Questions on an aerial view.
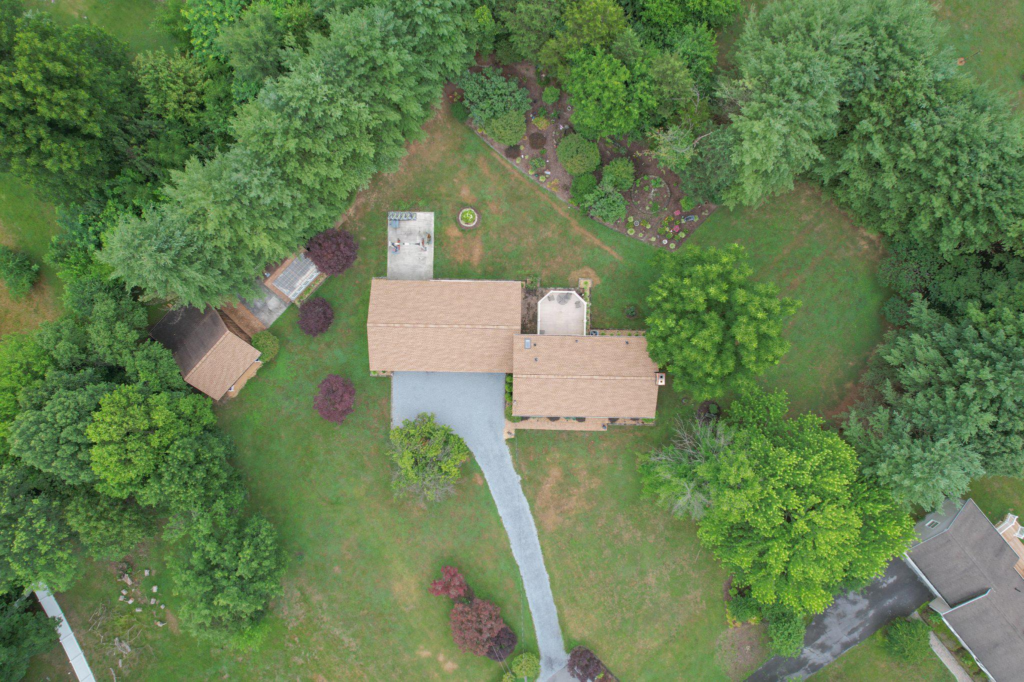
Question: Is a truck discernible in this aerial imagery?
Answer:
No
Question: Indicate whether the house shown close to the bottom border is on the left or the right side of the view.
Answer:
right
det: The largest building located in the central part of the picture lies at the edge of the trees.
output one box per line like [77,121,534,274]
[367,278,667,419]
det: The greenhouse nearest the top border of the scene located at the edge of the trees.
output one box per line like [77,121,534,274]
[272,253,325,297]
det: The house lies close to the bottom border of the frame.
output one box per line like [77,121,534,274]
[901,498,1024,682]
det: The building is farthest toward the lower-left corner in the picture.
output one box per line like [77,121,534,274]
[151,283,263,401]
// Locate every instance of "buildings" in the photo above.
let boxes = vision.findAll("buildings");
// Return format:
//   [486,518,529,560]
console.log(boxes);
[901,498,1024,682]
[272,253,325,297]
[151,283,263,401]
[367,278,667,419]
